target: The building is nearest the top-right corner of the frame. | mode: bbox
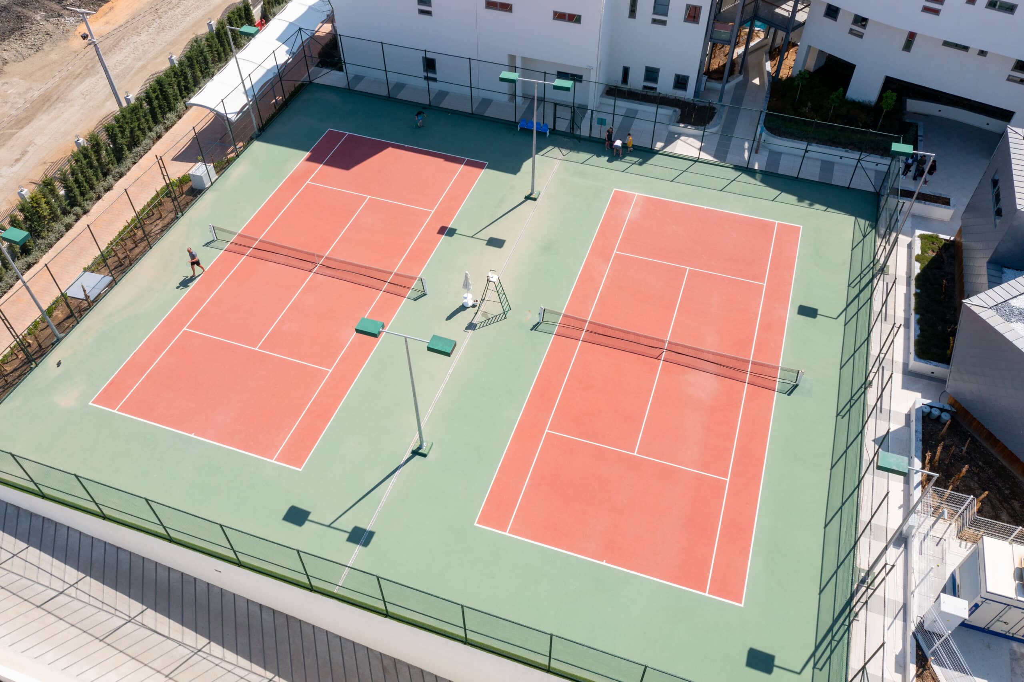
[792,0,1024,153]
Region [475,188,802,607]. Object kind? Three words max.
tennis court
